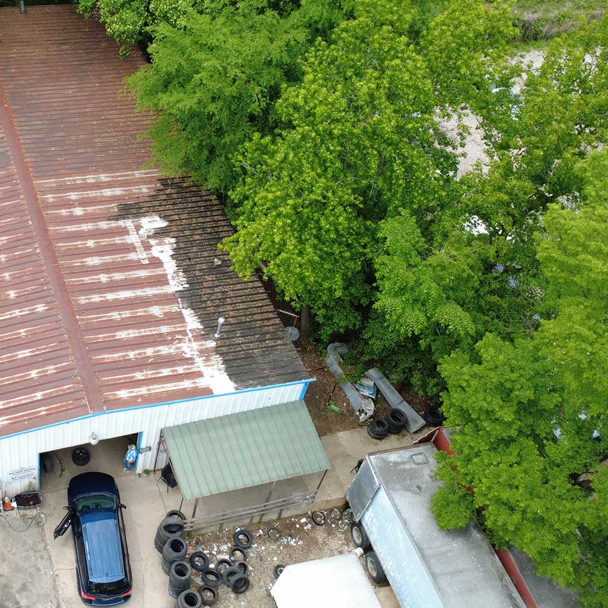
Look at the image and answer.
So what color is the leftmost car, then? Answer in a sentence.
The leftmost car looks blue in the image.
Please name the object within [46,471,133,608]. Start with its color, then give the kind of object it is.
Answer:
blue car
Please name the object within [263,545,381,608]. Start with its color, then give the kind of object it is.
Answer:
white trailer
